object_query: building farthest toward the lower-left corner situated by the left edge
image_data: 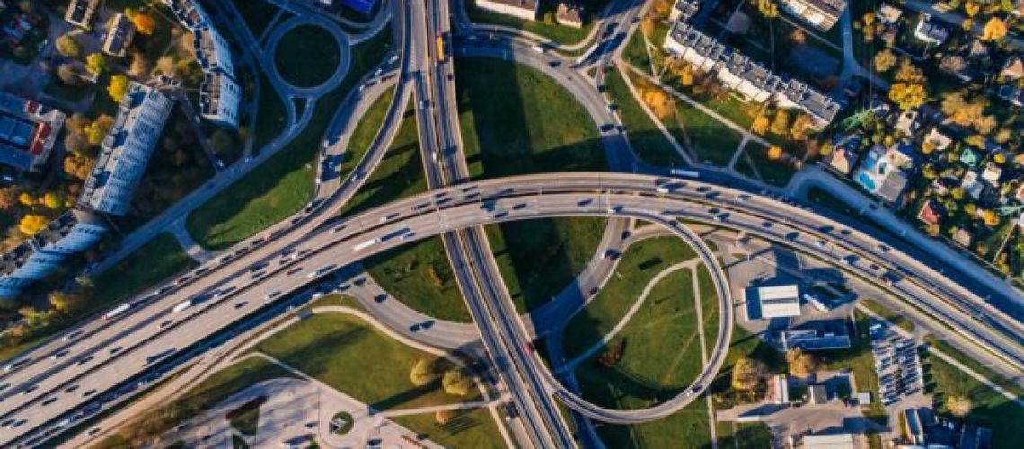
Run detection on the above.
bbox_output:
[0,208,107,295]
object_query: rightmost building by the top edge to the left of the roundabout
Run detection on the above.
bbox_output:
[171,0,240,127]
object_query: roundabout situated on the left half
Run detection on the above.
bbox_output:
[263,12,351,99]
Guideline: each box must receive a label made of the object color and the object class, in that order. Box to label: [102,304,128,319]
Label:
white vehicle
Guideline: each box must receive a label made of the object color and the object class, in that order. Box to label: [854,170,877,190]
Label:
blue swimming pool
